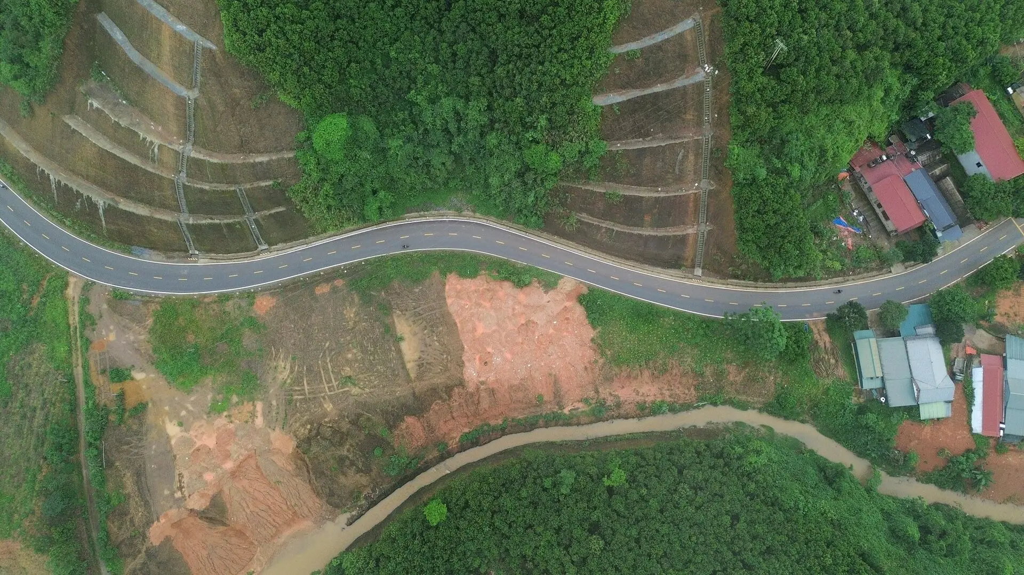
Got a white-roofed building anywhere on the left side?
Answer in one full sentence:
No, there's no white-roofed building to be seen on the left side.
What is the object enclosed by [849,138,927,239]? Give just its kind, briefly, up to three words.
house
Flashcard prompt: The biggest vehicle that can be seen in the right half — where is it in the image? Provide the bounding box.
[956,356,970,381]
